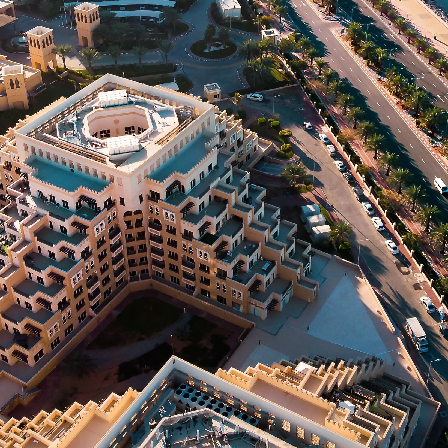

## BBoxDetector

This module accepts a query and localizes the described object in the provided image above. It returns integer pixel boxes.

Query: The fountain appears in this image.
[1,33,30,51]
